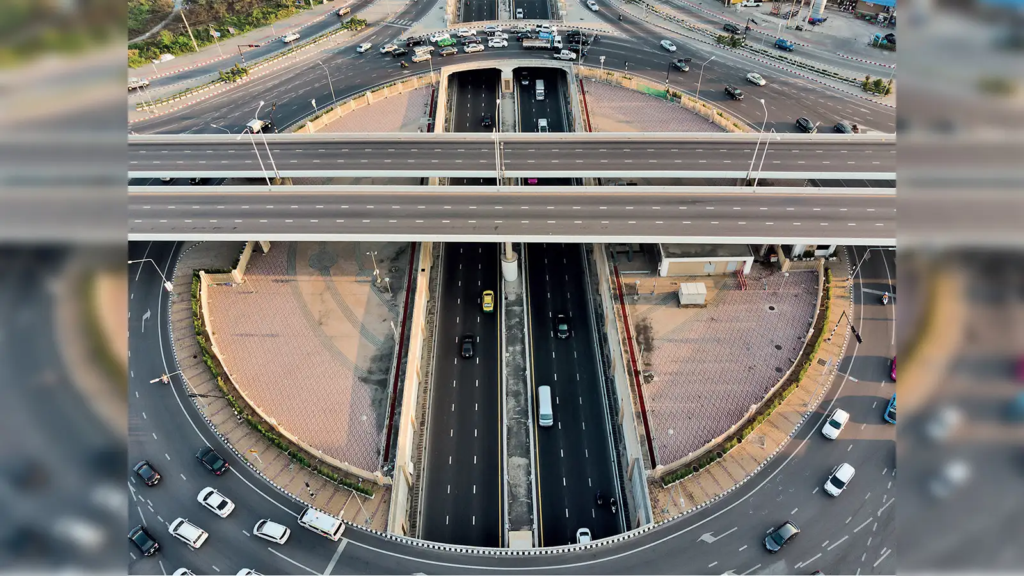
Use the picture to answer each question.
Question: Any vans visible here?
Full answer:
Yes, the image includes a van.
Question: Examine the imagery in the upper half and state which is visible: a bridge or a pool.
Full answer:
What appears in the upper half is a bridge.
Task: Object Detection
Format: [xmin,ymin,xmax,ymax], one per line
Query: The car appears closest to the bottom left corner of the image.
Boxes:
[126,525,162,559]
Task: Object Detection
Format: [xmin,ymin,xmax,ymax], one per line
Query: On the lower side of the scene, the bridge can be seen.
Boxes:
[387,520,651,552]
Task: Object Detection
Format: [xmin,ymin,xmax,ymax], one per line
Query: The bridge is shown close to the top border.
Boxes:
[393,22,620,97]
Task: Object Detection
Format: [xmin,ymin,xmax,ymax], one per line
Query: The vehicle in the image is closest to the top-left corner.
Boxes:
[122,79,148,91]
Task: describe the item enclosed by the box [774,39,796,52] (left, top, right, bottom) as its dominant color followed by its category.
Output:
blue vehicle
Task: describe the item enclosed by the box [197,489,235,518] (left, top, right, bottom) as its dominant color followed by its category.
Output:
white car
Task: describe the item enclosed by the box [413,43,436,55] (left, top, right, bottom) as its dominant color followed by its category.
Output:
white vehicle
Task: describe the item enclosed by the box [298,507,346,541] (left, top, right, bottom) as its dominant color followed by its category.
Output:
white van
